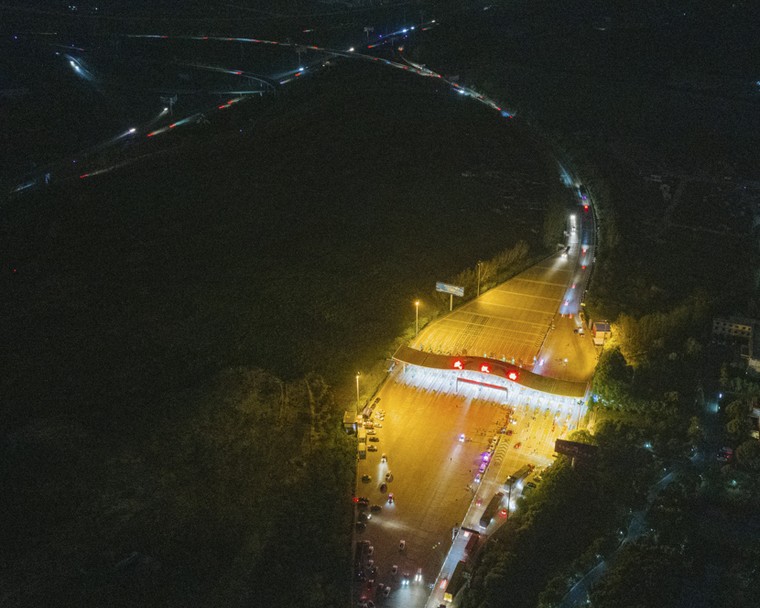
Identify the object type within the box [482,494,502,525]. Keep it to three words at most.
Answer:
vehicle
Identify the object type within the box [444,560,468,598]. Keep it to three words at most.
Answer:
truck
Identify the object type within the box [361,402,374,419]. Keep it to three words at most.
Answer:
vehicle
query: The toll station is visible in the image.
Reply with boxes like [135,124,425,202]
[393,344,592,419]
